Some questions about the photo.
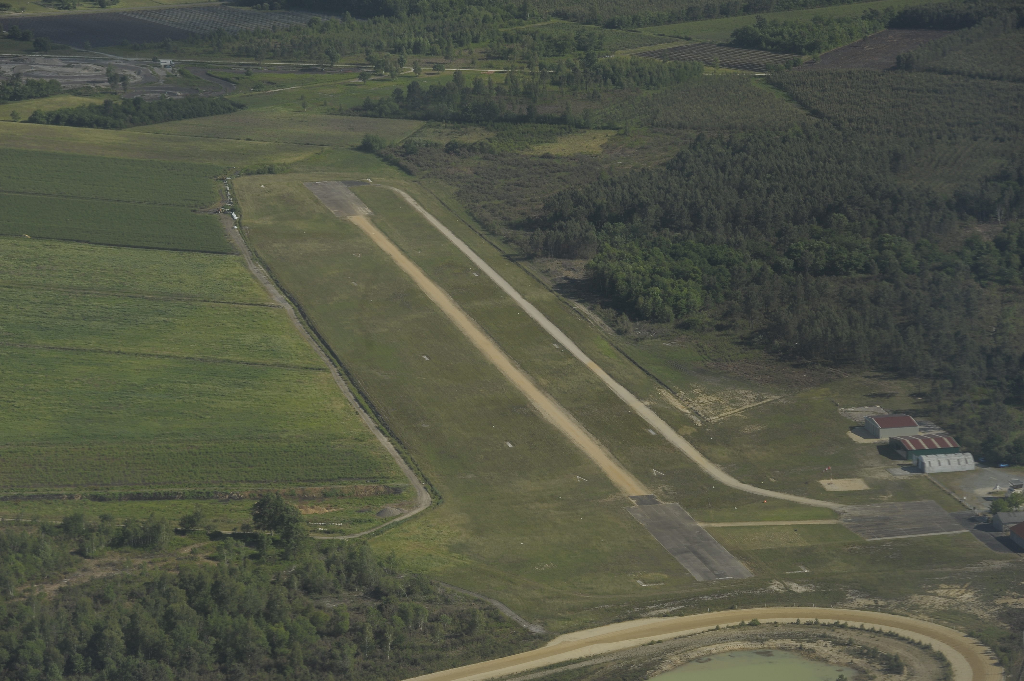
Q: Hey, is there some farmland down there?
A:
Yes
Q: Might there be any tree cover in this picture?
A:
Yes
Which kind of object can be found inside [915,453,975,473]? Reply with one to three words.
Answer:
shed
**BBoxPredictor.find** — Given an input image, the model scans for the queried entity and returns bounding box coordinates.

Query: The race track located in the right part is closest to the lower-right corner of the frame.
[403,607,1005,681]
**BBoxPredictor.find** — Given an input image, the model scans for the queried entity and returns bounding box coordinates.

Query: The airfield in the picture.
[261,178,1024,586]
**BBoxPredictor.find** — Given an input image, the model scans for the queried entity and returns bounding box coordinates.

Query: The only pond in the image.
[648,649,857,681]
